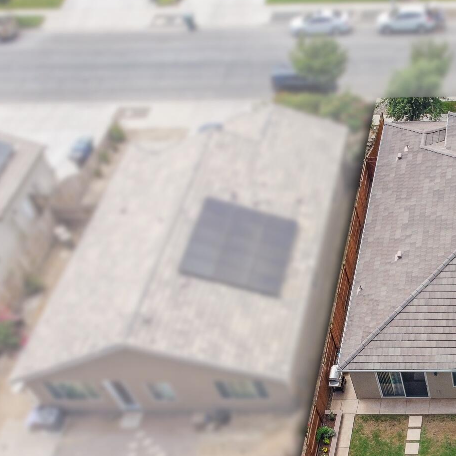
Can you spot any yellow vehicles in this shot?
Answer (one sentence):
No, no yellow vehicle can be seen from above.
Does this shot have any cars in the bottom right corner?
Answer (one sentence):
No, no car is visible in the bottom right corner.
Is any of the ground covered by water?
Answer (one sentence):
No, no water is visible.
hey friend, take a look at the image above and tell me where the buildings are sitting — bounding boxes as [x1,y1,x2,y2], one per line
[336,110,456,399]
[0,121,62,289]
[7,101,351,412]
